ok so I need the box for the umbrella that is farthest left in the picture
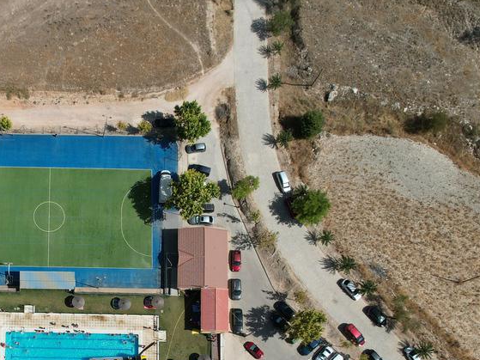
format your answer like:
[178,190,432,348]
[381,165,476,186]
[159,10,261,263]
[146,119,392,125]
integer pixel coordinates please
[72,297,85,309]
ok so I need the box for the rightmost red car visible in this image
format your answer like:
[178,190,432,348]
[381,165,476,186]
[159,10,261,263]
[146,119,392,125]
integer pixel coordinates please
[343,321,365,346]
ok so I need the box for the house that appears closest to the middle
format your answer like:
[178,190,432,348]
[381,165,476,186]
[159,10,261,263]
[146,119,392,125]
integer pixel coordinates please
[177,228,229,291]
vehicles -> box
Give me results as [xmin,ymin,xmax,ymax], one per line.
[331,354,345,360]
[402,344,422,360]
[188,214,215,227]
[231,277,243,301]
[296,339,323,359]
[160,173,173,205]
[232,308,244,333]
[366,347,383,360]
[281,331,302,348]
[231,249,242,273]
[197,202,219,214]
[364,303,390,328]
[340,279,363,302]
[243,340,265,360]
[312,344,335,360]
[271,299,296,319]
[189,163,213,178]
[275,170,292,195]
[286,191,301,213]
[267,312,291,332]
[343,321,365,346]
